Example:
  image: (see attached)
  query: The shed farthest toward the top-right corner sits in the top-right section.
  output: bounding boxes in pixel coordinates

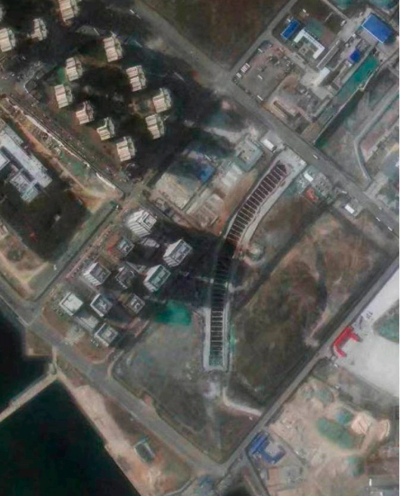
[362,13,393,42]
